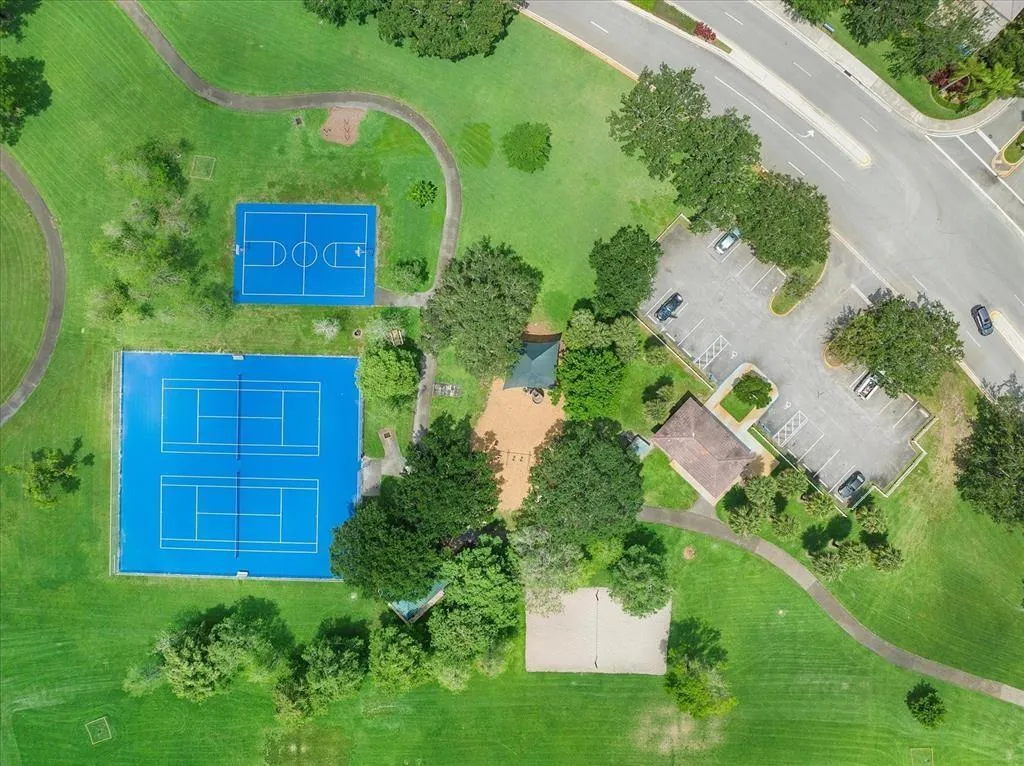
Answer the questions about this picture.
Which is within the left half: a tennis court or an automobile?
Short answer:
tennis court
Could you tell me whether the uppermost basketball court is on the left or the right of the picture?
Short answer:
left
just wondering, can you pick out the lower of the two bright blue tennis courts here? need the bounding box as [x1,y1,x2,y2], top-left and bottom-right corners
[119,463,358,579]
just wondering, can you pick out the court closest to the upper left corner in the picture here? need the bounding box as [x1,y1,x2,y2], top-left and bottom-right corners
[234,203,376,305]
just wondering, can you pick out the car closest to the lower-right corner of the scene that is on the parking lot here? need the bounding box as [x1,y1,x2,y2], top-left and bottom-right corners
[837,469,866,498]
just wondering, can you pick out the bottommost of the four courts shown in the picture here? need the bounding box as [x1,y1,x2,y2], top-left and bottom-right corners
[524,587,674,677]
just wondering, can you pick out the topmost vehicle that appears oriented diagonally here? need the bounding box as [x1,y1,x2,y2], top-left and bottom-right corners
[714,227,740,255]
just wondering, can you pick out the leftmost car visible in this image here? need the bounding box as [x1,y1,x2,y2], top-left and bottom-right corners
[654,291,685,322]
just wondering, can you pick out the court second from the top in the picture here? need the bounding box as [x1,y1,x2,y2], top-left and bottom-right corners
[120,352,360,467]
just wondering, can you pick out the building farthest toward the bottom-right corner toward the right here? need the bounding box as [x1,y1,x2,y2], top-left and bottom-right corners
[653,397,756,502]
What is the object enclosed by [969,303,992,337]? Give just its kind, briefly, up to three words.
car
